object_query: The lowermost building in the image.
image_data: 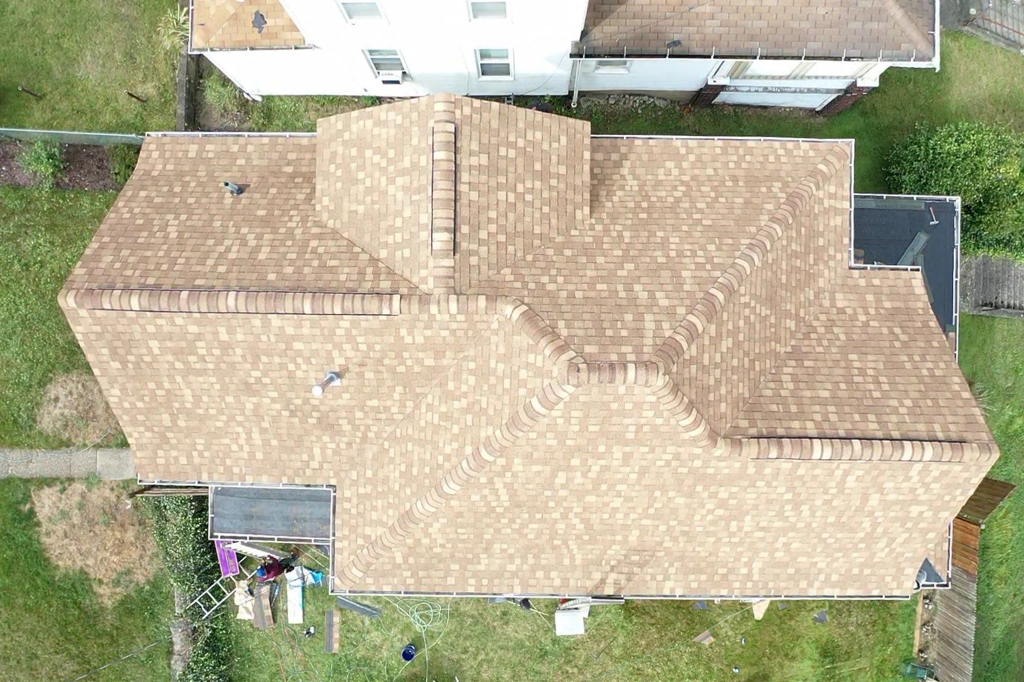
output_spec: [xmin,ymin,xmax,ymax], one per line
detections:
[62,93,996,603]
